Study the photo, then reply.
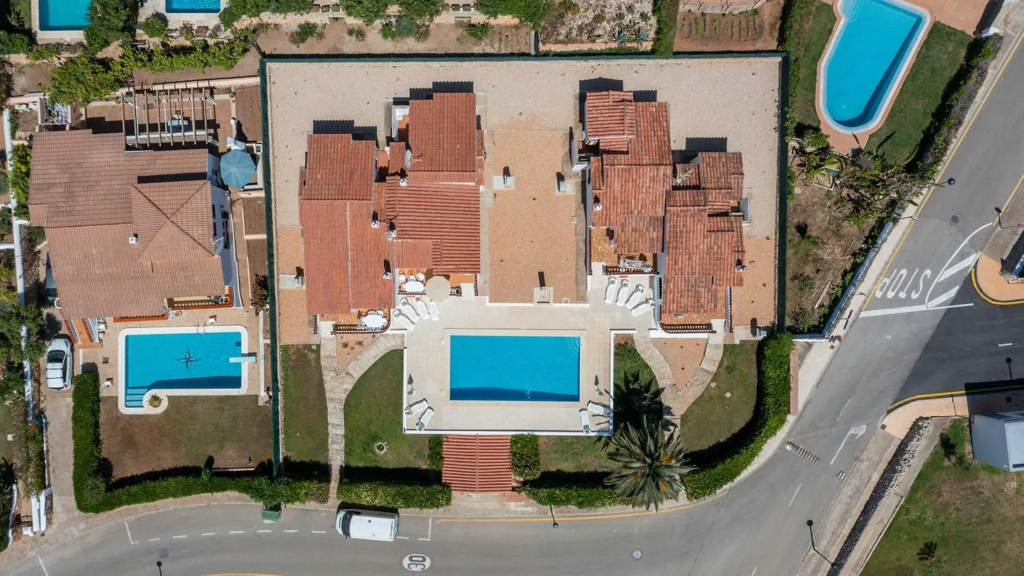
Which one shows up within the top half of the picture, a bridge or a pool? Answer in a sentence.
It is a pool that can be seen within the top half of the picture.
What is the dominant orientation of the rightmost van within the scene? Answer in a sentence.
The rightmost van is laid out horizontally.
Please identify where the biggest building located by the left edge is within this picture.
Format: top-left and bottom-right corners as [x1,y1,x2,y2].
[27,129,239,348]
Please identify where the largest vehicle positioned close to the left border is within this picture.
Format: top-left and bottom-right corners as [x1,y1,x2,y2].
[44,335,78,391]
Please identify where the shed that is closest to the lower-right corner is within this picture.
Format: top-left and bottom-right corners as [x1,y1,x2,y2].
[974,410,1024,472]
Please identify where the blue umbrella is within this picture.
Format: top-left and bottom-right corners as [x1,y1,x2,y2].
[222,150,259,187]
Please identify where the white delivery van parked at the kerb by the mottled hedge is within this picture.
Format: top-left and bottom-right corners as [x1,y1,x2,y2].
[333,505,403,543]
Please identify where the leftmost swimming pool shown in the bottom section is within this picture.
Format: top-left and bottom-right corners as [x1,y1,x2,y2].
[119,326,248,414]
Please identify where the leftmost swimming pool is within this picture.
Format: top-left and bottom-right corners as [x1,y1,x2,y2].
[37,0,93,33]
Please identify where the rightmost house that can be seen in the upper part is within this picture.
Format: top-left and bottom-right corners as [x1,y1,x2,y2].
[570,91,751,343]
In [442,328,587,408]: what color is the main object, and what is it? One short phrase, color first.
blue swimming pool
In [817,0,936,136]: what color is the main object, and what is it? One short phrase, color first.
blue swimming pool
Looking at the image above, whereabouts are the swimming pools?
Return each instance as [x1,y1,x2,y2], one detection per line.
[37,0,93,33]
[164,0,222,15]
[119,326,248,414]
[817,0,936,136]
[442,328,587,408]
